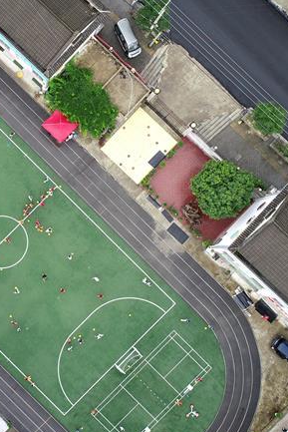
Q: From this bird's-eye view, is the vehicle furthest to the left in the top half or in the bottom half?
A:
top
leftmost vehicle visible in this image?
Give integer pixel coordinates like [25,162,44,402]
[115,18,140,60]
